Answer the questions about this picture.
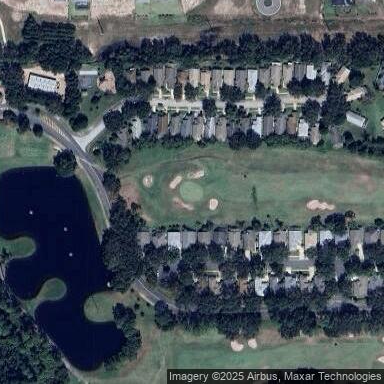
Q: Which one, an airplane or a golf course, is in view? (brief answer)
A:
golf course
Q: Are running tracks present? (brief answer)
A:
No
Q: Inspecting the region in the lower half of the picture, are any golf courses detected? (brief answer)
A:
Yes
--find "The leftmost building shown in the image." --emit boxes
[27,73,58,93]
